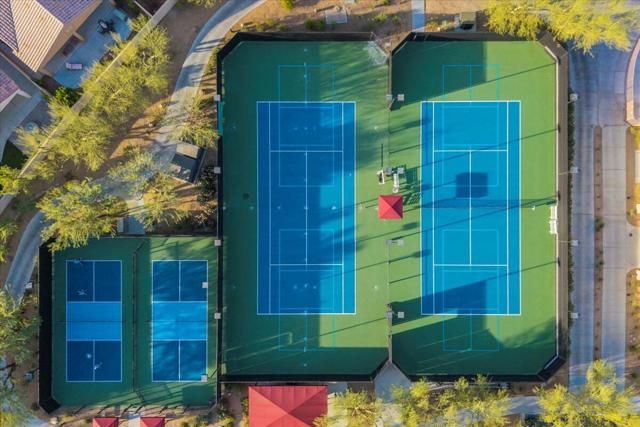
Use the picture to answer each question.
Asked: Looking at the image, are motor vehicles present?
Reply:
No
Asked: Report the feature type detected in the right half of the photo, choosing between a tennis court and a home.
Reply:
tennis court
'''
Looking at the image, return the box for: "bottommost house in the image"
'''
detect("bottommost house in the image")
[0,69,32,133]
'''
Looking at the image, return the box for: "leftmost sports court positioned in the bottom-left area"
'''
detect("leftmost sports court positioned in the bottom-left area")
[52,237,134,406]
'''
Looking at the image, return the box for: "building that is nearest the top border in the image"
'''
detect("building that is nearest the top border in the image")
[0,0,103,85]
